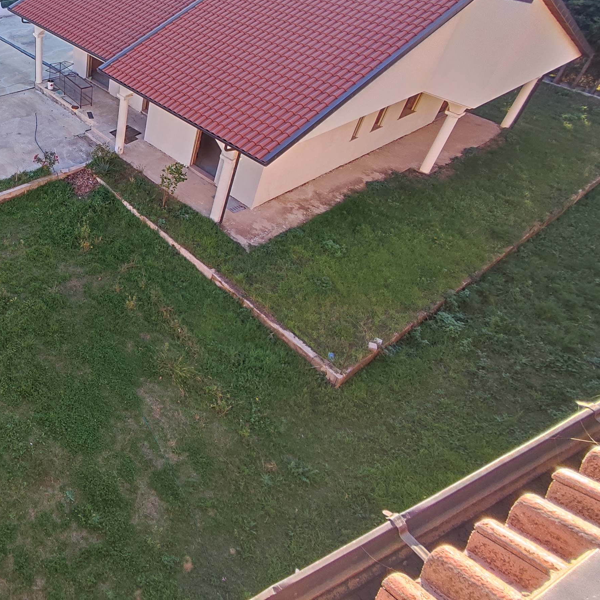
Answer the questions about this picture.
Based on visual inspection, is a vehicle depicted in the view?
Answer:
No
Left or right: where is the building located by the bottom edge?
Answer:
right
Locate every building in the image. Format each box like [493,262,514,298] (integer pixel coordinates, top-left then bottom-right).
[233,395,600,600]
[2,0,600,255]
